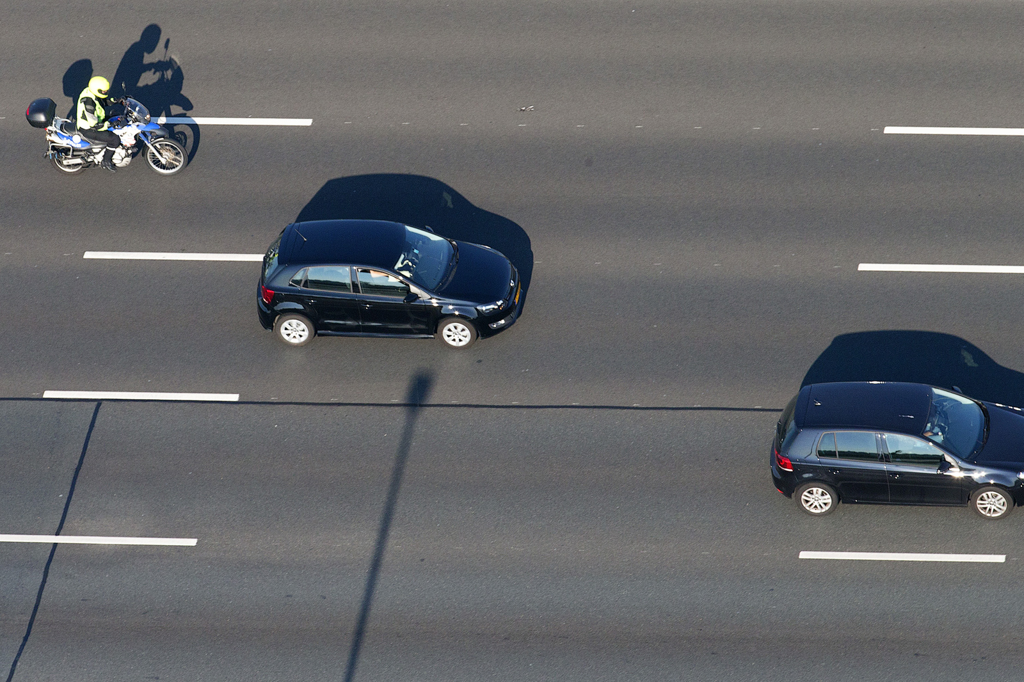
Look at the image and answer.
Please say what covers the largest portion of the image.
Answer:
paved ground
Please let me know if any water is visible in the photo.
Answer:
No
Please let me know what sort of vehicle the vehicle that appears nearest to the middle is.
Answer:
automobile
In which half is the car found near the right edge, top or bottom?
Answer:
bottom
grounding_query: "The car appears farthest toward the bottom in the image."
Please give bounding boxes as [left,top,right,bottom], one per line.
[771,379,1024,519]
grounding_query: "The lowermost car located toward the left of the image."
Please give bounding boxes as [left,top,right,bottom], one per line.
[255,218,524,350]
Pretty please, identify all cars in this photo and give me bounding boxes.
[771,379,1024,519]
[255,218,524,350]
